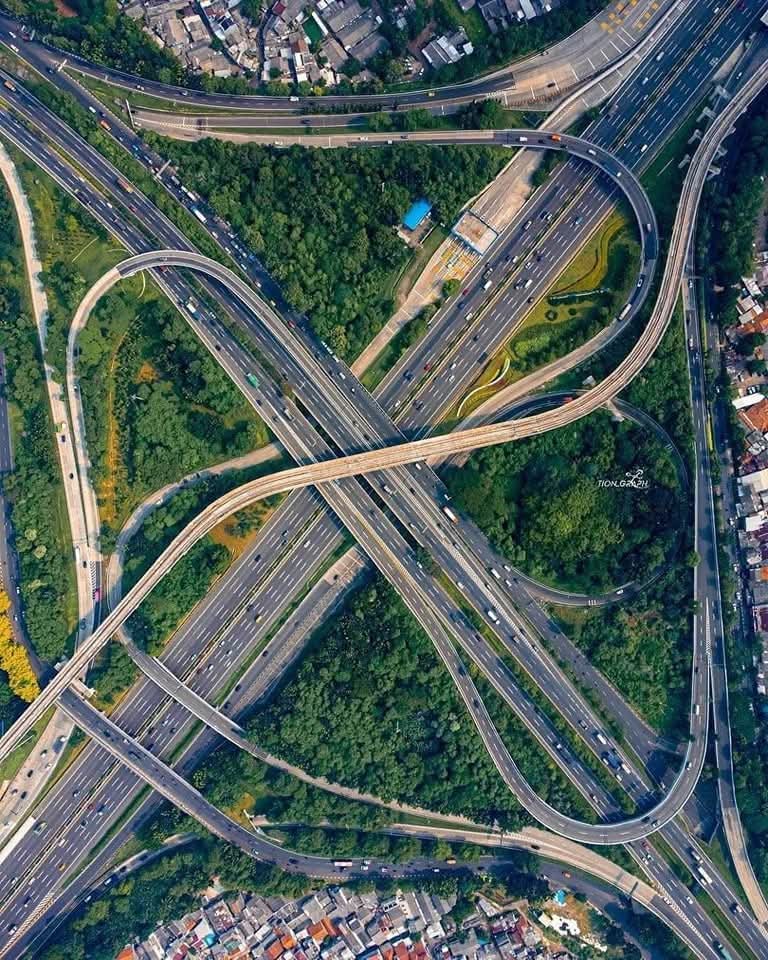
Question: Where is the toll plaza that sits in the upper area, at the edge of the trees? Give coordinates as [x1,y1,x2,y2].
[442,201,505,270]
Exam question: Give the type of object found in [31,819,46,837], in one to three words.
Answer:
vehicle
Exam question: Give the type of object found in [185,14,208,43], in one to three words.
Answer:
house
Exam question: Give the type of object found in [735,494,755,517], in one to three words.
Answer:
house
